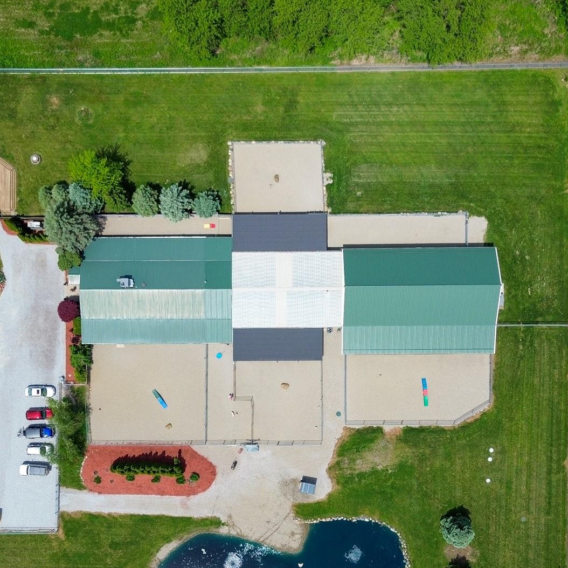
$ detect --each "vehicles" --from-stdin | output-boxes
[24,426,55,440]
[26,407,56,422]
[26,384,58,399]
[26,444,55,458]
[20,462,53,477]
